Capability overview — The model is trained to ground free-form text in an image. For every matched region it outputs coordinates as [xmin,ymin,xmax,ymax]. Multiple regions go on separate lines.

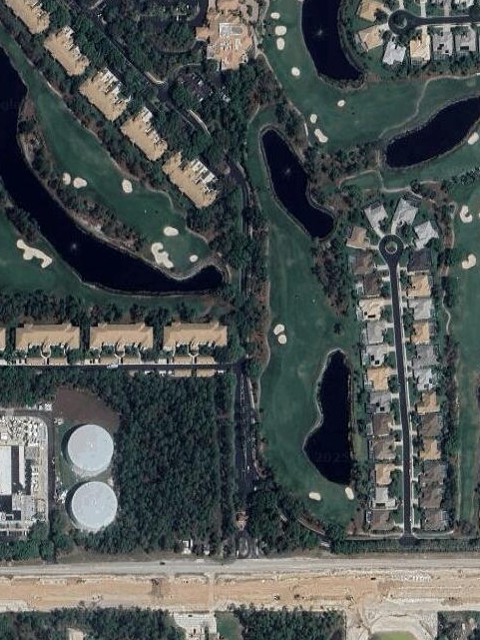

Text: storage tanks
[65,425,113,476]
[69,482,117,533]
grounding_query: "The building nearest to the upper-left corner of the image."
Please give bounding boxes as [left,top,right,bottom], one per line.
[6,0,49,31]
